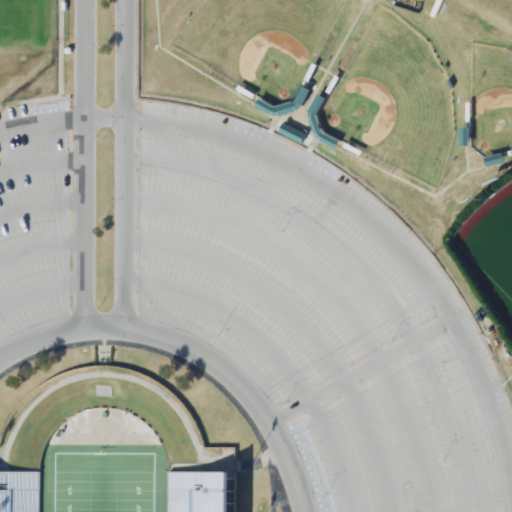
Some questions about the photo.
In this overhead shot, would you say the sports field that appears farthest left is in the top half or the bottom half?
bottom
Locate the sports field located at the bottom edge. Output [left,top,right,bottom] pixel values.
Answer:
[43,407,167,512]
